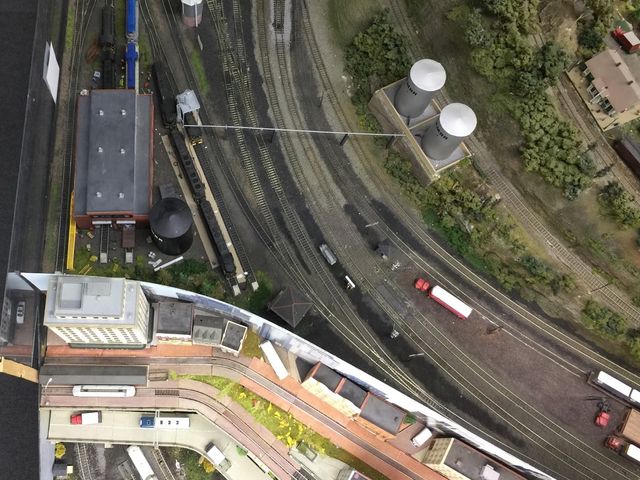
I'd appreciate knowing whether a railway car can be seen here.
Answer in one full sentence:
Yes, the frame does contain a railway car.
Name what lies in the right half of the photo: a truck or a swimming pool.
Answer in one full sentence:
Visible in the right half of the photo is a truck.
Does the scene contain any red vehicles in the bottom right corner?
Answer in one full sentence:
Yes, you'll find a red vehicle in the bottom right corner.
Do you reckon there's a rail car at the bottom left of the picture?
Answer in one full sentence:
Yes, at the bottom left of the picture there is a rail car.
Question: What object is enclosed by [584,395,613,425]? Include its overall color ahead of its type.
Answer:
red truck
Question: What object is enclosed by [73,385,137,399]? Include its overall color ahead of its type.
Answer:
white train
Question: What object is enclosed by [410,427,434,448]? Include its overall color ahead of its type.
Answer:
white vehicle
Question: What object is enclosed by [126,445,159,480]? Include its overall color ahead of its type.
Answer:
white rail car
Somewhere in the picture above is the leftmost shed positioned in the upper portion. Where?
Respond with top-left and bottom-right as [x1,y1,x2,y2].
[75,86,154,235]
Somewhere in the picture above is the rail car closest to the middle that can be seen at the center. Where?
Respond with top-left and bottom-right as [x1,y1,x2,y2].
[317,242,339,268]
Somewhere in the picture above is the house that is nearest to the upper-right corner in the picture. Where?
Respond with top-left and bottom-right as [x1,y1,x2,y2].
[580,53,640,118]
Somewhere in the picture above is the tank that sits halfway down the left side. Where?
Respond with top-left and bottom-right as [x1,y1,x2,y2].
[148,201,194,256]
